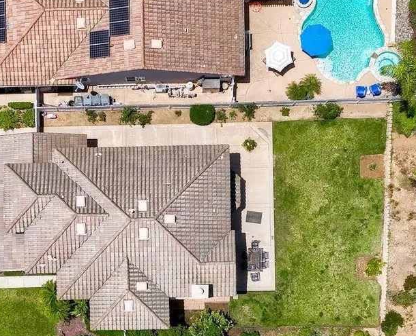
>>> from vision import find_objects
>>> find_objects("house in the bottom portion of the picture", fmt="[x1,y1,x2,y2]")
[0,132,241,332]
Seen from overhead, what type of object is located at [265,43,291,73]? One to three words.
umbrella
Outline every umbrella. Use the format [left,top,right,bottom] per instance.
[300,26,332,59]
[265,43,291,73]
